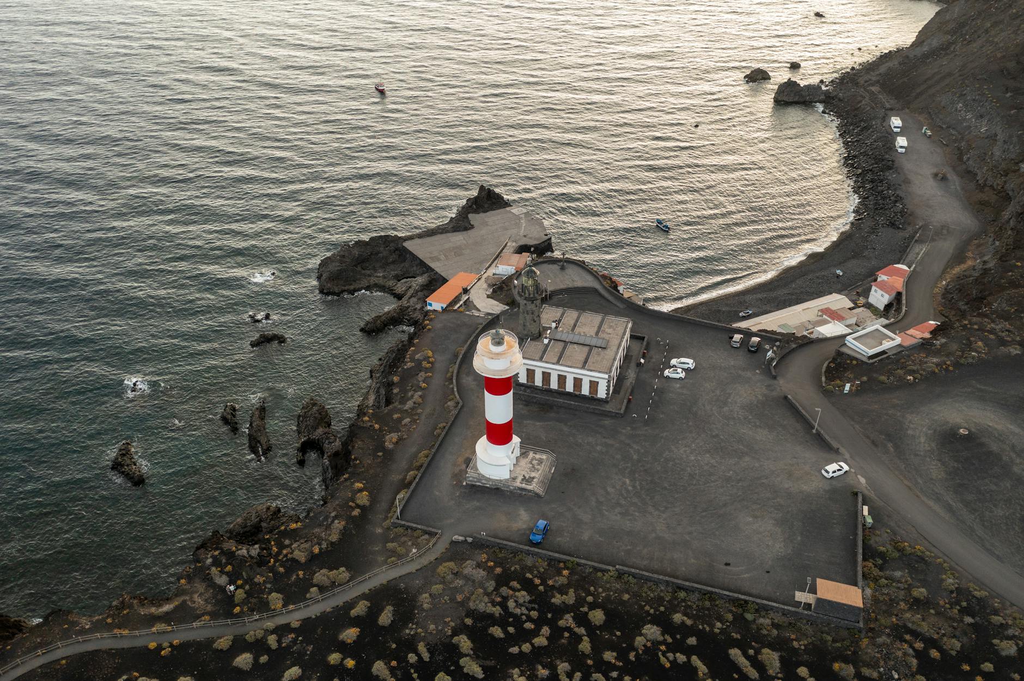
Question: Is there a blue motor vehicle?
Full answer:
Yes, a blue motor vehicle can be made out from above.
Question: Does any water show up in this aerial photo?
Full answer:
Yes, there's water in this view.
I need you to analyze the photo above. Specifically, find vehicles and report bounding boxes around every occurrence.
[664,368,687,381]
[892,115,903,131]
[529,517,549,544]
[898,135,909,152]
[670,358,696,372]
[727,335,744,350]
[748,338,761,354]
[821,462,851,480]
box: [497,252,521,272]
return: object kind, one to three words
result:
house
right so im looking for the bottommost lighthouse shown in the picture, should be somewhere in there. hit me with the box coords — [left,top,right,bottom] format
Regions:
[472,315,521,482]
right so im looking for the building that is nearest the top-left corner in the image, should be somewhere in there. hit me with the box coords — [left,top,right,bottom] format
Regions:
[426,272,479,313]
